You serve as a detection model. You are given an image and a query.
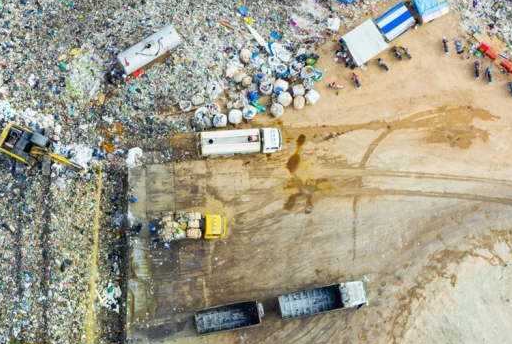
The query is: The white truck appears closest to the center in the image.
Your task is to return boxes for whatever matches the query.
[198,129,283,158]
